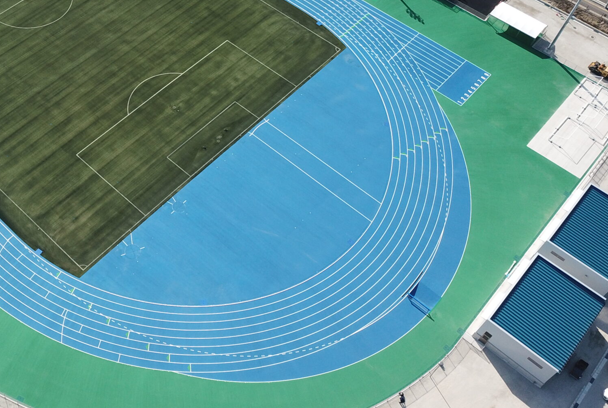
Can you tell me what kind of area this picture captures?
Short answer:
sports ground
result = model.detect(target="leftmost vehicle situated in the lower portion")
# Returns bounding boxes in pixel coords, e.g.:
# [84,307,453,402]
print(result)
[568,352,594,384]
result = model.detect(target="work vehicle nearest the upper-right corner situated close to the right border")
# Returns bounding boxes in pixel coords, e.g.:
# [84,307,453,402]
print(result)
[581,54,608,78]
